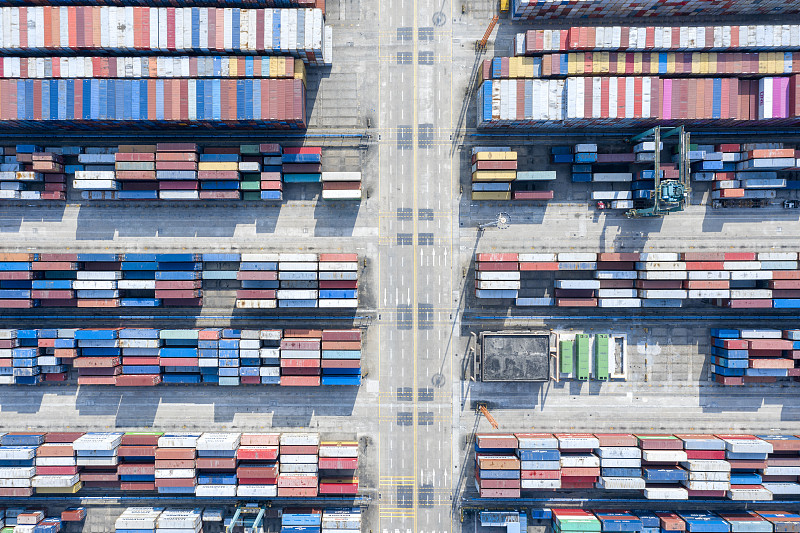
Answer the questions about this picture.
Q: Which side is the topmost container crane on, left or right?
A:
right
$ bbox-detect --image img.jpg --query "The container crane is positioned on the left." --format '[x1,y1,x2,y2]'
[223,508,269,533]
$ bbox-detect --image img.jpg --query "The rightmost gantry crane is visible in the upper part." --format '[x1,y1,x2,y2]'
[624,125,691,215]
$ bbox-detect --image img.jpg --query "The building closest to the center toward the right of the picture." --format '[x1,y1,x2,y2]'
[477,327,548,382]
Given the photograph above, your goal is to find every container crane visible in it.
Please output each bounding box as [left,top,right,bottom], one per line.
[624,125,691,215]
[223,508,269,533]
